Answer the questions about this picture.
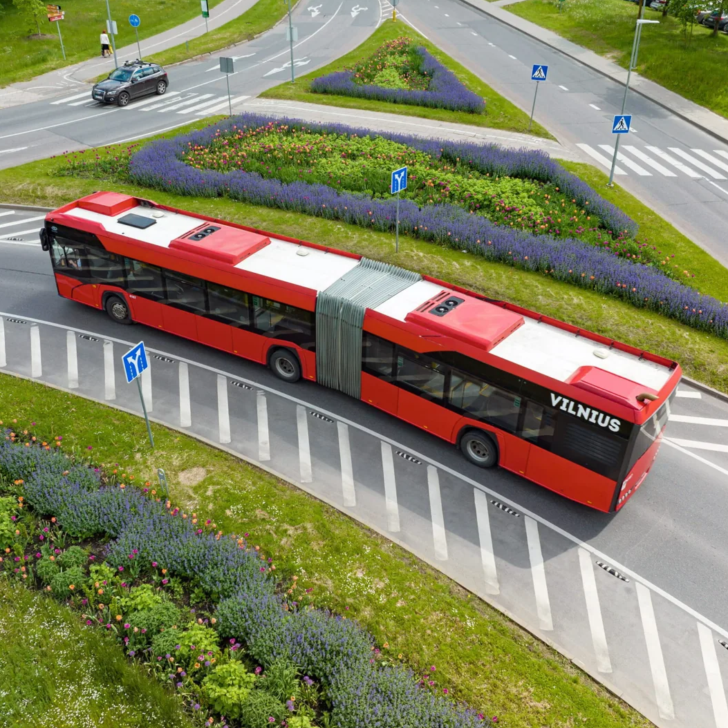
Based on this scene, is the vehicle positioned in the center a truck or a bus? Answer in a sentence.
In the photo, the vehicle positioned in the center shows up as a bus.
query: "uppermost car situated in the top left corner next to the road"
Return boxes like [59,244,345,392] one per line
[87,58,167,107]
